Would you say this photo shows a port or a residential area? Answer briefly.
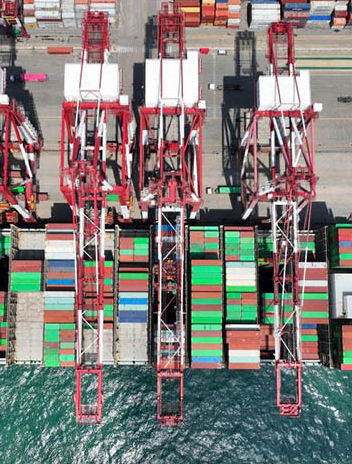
port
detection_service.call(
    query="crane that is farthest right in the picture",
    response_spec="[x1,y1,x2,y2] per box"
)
[225,19,329,415]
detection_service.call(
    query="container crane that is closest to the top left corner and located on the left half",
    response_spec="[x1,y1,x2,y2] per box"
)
[2,0,34,33]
